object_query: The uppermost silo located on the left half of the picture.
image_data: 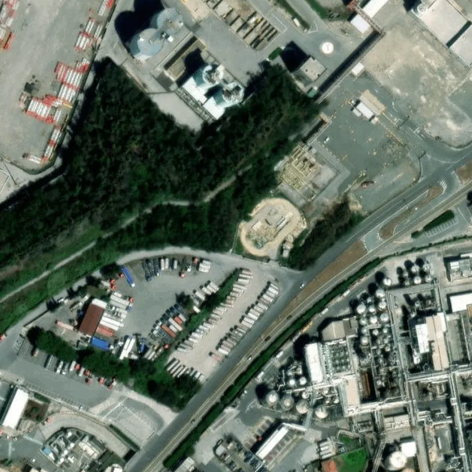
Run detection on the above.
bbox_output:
[151,8,182,40]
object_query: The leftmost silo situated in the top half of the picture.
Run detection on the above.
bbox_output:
[130,30,163,62]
